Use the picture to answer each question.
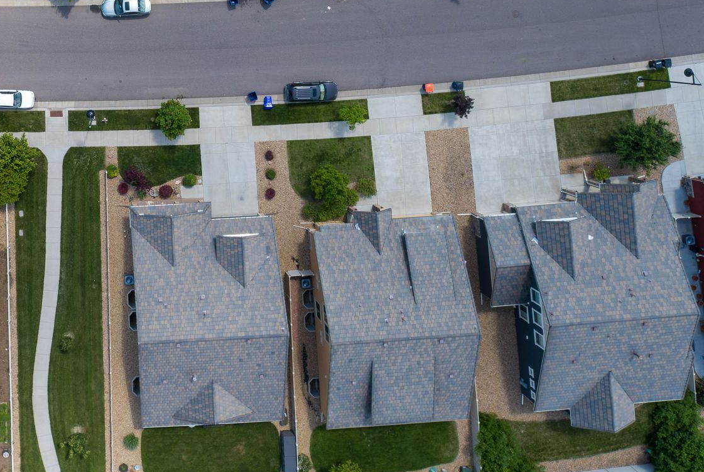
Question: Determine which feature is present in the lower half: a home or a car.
home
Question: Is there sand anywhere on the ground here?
No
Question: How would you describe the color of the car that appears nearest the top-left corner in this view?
white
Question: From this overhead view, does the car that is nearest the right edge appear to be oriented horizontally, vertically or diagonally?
horizontally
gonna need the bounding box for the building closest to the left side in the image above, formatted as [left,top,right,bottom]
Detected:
[125,199,286,431]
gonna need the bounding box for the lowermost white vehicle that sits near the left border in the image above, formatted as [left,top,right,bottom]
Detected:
[0,88,35,112]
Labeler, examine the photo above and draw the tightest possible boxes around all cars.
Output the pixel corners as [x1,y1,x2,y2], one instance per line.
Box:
[0,88,35,112]
[283,79,337,104]
[101,0,152,20]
